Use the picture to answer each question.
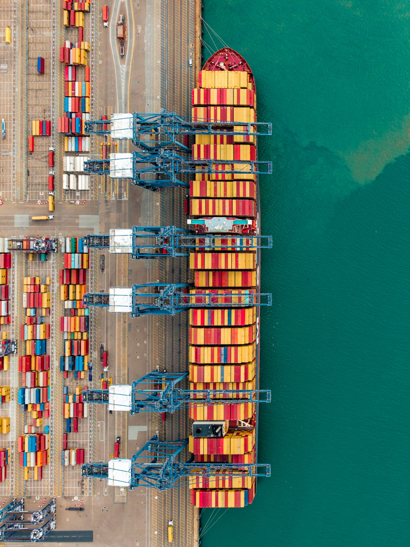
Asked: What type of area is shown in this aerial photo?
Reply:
port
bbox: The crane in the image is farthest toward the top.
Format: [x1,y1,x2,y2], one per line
[80,108,271,160]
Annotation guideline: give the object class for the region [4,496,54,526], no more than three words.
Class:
container crane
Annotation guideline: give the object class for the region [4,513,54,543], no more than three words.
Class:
container crane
